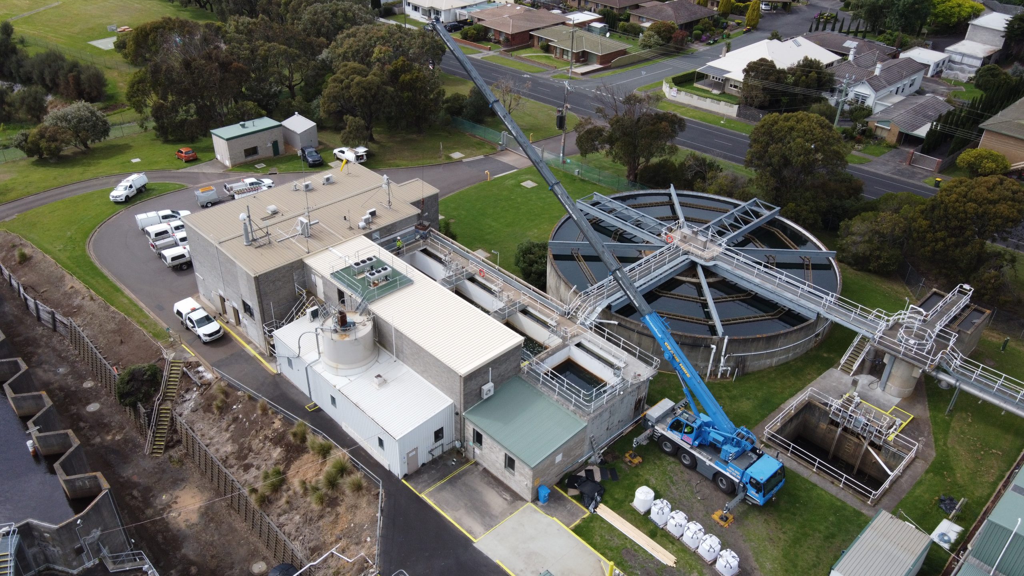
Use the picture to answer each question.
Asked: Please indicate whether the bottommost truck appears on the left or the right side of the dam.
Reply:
on its right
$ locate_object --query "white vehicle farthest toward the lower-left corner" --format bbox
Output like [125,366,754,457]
[178,297,223,343]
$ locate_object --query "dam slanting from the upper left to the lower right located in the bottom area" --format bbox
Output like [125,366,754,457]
[0,328,112,495]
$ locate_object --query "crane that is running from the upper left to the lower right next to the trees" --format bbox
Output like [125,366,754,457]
[413,14,782,519]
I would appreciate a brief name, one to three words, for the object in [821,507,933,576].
shed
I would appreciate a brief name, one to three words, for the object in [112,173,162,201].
truck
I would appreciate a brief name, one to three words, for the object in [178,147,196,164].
car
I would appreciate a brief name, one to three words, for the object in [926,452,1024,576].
building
